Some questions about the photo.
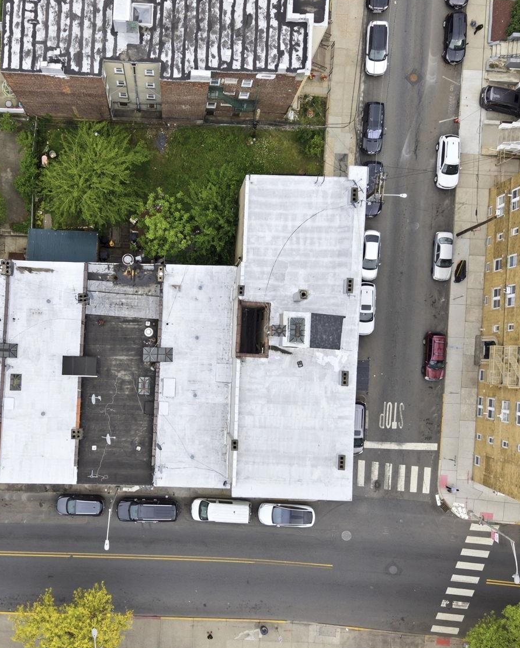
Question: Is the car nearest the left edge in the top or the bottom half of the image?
bottom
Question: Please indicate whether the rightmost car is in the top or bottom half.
top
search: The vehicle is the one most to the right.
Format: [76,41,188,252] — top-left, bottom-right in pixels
[478,85,520,117]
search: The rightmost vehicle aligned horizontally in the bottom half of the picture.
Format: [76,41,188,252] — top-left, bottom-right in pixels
[258,501,317,529]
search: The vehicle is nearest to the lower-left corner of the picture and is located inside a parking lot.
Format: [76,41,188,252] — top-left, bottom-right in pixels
[56,492,105,518]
